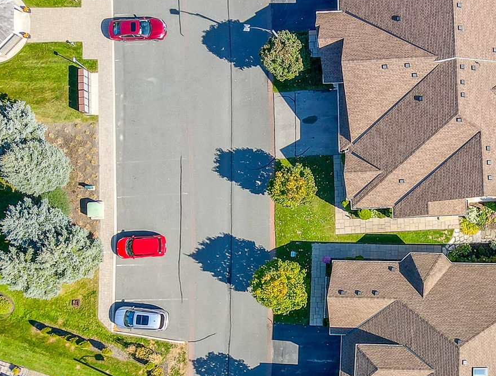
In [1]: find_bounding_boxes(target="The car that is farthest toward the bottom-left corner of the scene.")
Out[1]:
[116,302,172,332]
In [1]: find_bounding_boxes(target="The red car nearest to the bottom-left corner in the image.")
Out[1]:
[118,232,169,259]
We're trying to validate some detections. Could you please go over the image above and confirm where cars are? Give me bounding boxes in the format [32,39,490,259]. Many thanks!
[116,302,172,332]
[109,14,170,44]
[118,232,169,259]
